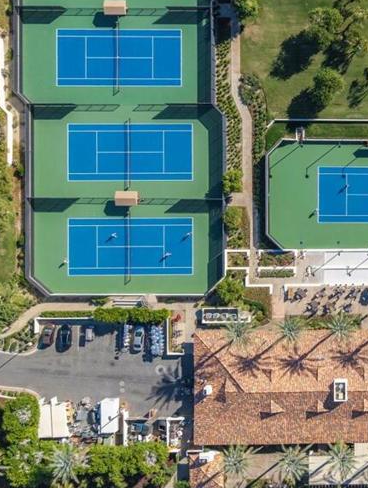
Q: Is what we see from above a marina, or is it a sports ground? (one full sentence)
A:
This image shows a sports ground.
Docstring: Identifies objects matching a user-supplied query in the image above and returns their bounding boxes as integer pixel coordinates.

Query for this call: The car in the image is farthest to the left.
[38,324,52,347]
